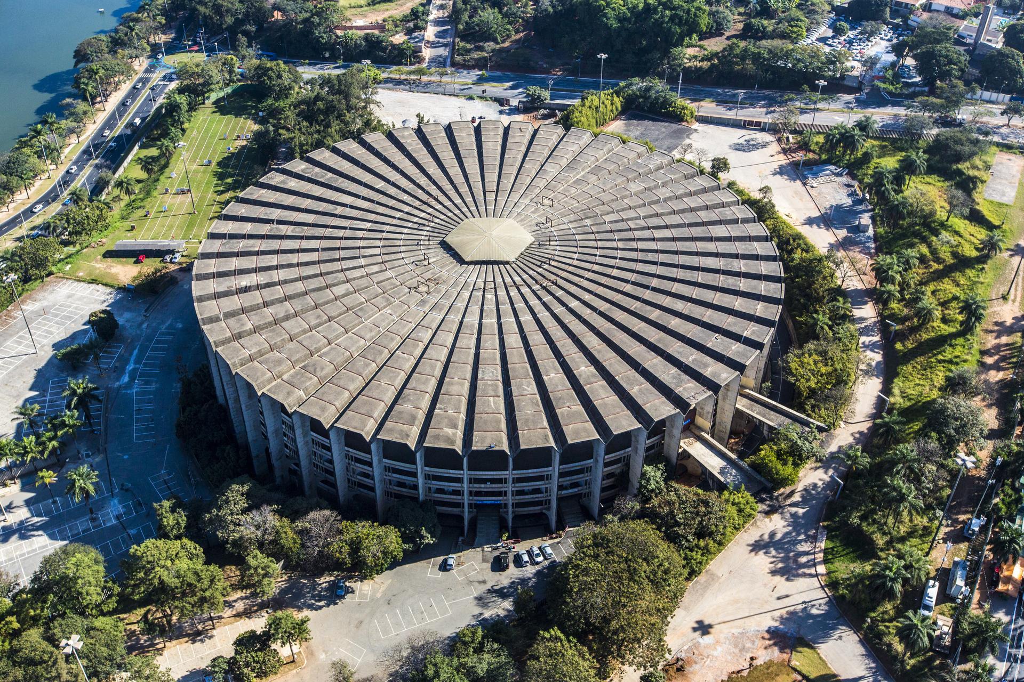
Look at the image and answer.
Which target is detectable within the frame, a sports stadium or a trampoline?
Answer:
sports stadium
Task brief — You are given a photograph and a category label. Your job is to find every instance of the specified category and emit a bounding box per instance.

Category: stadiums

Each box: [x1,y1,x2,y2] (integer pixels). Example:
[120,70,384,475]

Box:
[191,119,785,563]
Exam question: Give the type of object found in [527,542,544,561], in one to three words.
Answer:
car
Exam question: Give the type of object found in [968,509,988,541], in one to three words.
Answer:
vehicle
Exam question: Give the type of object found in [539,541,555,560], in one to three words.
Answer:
car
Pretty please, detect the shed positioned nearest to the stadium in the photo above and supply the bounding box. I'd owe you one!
[110,240,196,259]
